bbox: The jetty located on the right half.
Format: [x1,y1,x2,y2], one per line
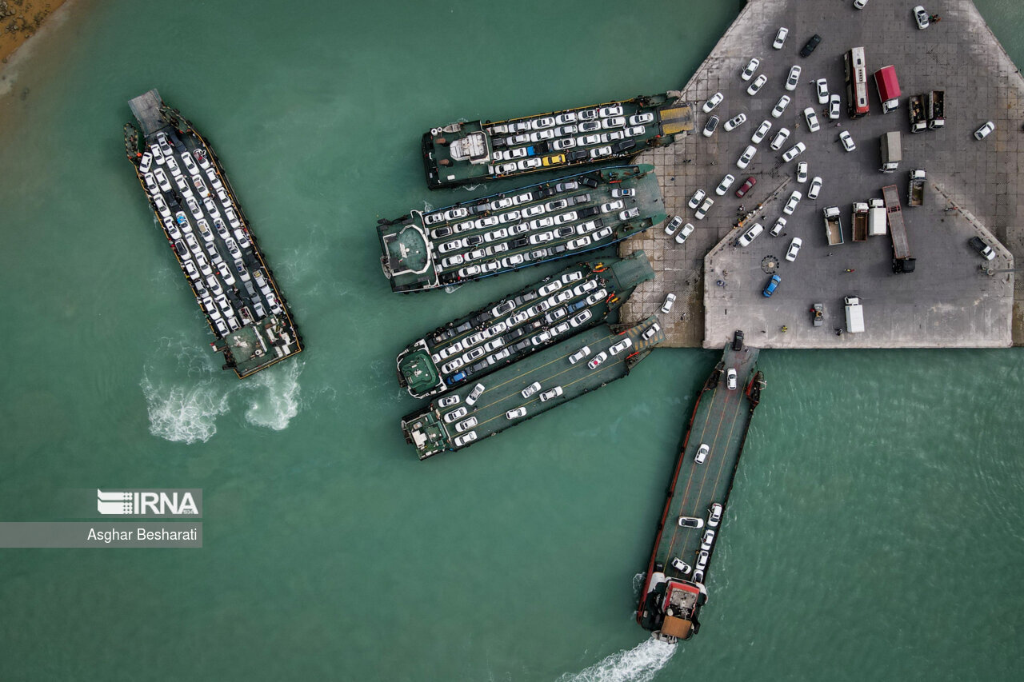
[618,0,1024,348]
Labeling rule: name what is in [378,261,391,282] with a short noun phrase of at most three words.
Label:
boat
